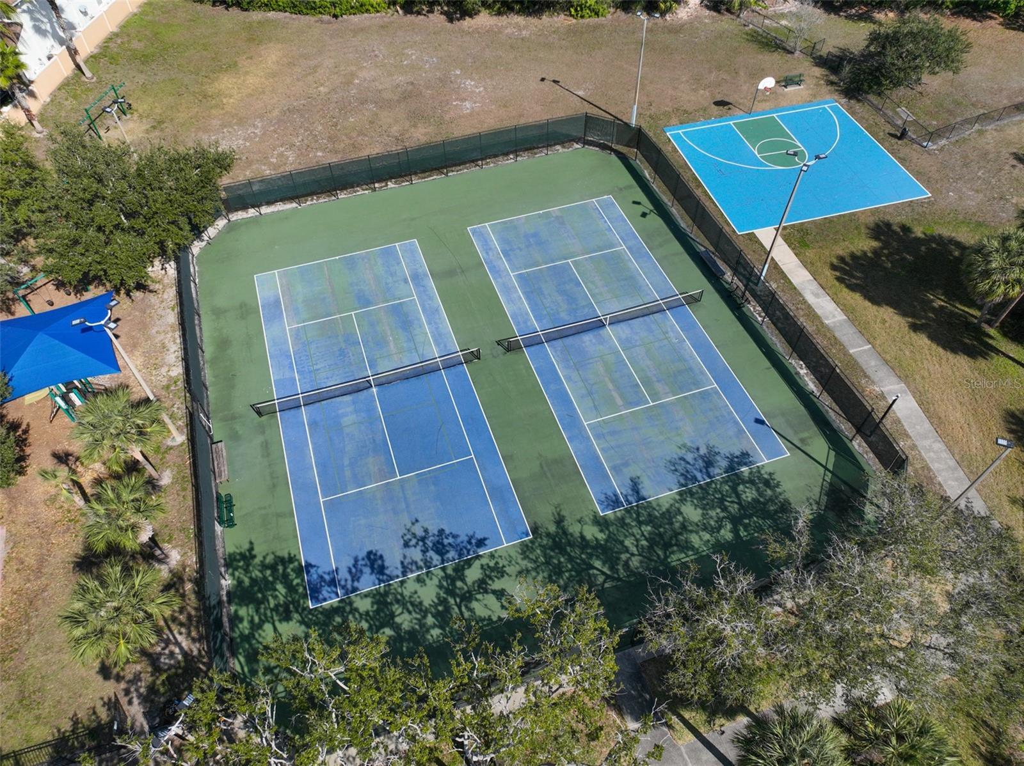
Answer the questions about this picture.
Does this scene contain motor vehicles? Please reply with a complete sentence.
No, there's no motor vehicle here.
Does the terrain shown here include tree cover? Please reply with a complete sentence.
Yes, tree cover can be seen from above here.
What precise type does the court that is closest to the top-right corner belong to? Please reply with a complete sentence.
It turns out the court that is closest to the top-right corner is a basketball court.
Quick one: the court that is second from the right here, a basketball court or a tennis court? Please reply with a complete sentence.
It turns out the court that is second from the right is a tennis court.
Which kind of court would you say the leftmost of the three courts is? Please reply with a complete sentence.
What you see as the leftmost of the three courts is a tennis court.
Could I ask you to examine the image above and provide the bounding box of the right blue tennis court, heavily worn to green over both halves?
[468,196,788,514]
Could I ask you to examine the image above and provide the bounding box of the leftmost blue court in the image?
[256,239,531,606]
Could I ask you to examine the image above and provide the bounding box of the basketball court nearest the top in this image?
[663,98,934,234]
